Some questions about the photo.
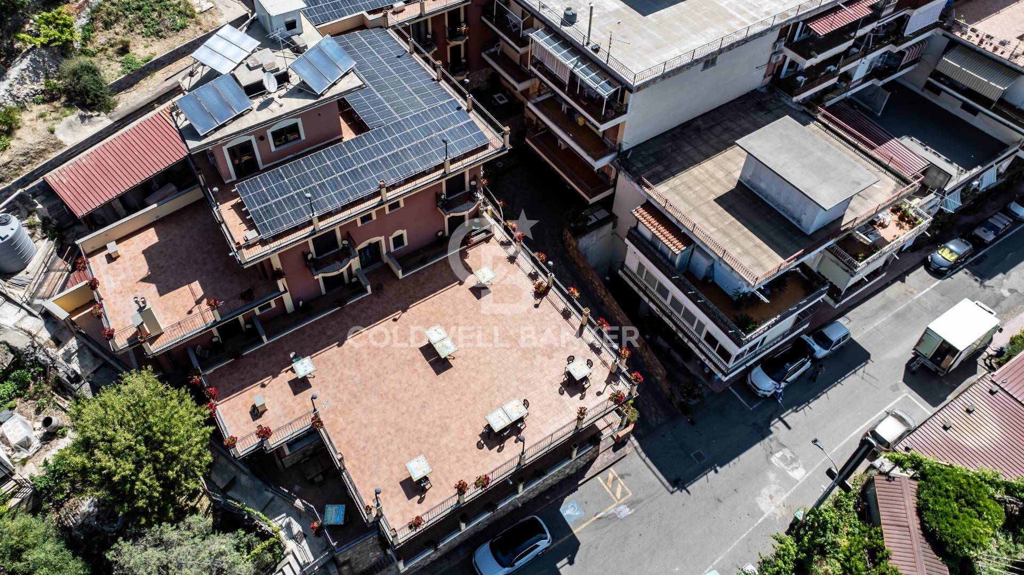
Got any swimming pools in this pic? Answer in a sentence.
No, there isn't any swimming pool down there.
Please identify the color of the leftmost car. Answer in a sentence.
The leftmost car is black.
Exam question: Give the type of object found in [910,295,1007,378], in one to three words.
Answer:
truck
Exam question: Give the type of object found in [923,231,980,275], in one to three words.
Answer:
car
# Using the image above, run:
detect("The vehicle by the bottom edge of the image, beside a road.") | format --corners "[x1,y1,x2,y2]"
[467,514,554,575]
